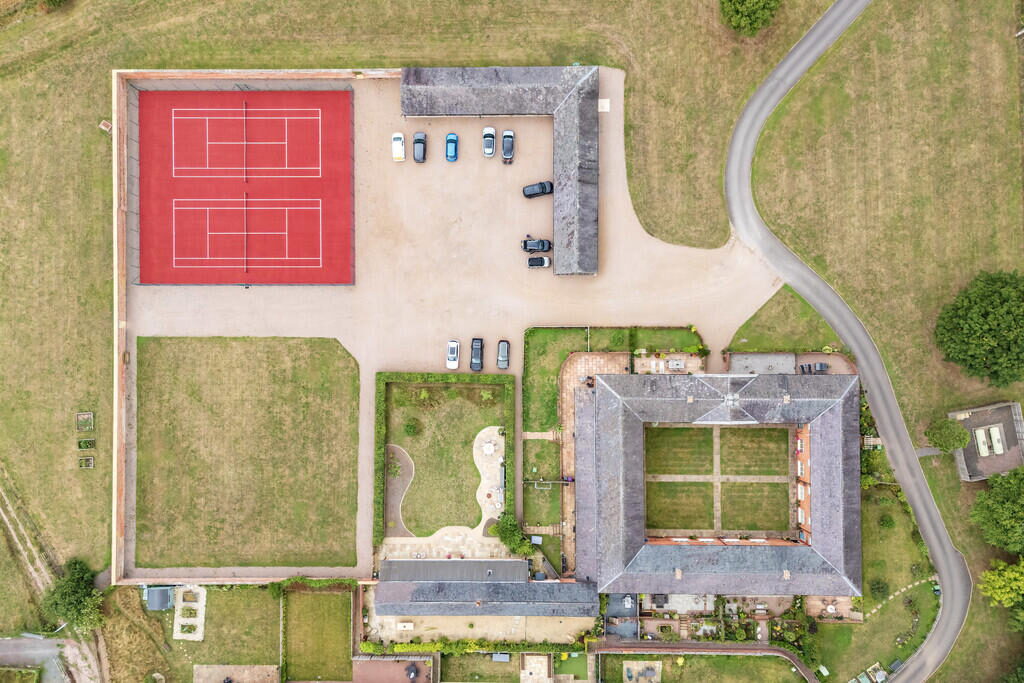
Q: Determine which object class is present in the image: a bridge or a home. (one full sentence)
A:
It is a home that can be seen here.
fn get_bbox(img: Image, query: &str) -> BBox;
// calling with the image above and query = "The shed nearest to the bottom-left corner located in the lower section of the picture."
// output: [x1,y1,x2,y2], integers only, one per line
[147,585,175,609]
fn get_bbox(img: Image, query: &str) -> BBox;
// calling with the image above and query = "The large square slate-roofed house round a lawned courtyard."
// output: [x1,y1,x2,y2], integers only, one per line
[573,373,861,597]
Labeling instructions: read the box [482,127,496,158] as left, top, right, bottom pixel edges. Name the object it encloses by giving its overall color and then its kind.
white car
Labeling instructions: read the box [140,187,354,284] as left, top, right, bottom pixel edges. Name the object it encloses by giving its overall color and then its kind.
red tennis court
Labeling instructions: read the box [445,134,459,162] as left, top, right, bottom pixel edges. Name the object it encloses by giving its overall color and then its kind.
blue car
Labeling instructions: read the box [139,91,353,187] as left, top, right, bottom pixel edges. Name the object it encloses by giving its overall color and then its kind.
red tennis court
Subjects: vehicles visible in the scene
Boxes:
[413,132,426,164]
[502,131,515,160]
[522,181,552,198]
[497,340,509,369]
[527,256,552,268]
[391,133,405,163]
[469,338,483,371]
[521,235,552,254]
[445,134,459,162]
[482,127,496,158]
[447,340,459,369]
